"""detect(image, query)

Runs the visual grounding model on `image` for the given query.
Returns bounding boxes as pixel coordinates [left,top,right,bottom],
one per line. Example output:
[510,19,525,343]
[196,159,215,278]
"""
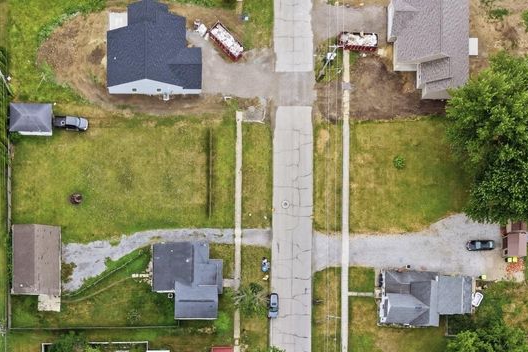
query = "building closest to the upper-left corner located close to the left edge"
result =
[9,103,54,138]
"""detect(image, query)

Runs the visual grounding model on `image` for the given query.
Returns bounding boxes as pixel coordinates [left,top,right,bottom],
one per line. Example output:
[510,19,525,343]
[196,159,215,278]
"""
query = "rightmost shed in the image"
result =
[500,221,527,258]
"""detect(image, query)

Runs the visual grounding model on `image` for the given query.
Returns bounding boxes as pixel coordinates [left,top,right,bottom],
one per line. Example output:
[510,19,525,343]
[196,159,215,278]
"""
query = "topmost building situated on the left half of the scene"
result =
[106,0,203,99]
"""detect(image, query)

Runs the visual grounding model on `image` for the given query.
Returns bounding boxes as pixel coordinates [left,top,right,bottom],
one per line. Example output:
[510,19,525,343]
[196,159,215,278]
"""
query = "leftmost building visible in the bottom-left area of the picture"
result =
[12,222,62,295]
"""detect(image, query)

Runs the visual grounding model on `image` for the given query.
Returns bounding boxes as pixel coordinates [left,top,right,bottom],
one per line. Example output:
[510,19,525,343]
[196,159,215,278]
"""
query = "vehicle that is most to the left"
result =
[54,116,88,132]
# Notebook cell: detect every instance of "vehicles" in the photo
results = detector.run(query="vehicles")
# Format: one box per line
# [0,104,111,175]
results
[465,238,495,252]
[54,116,88,132]
[266,292,280,320]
